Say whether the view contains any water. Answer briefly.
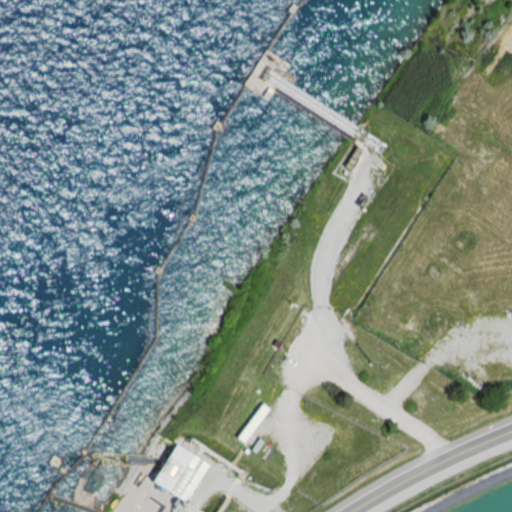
Yes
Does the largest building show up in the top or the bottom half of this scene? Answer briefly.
bottom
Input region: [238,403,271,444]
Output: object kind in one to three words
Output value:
building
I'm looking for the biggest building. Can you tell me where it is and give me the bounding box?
[153,443,210,500]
